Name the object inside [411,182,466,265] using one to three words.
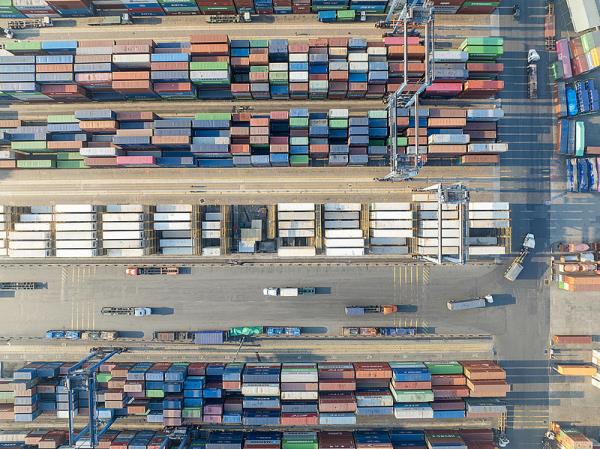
container crane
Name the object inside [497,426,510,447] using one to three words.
vehicle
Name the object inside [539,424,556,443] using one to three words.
vehicle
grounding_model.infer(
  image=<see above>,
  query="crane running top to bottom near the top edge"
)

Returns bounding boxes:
[381,0,431,107]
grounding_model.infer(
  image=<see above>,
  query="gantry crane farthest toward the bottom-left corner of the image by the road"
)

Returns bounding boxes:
[67,347,130,449]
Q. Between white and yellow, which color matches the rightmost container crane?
white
